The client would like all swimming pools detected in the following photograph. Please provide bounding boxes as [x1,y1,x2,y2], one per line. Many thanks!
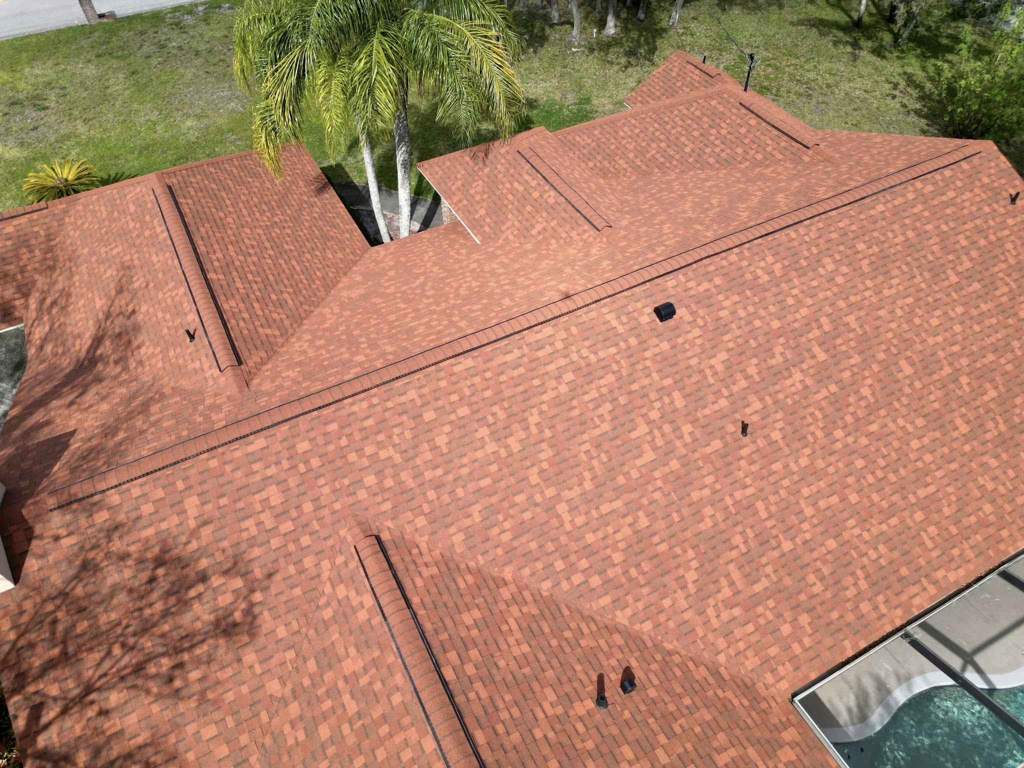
[822,664,1024,768]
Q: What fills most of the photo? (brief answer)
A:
buildings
